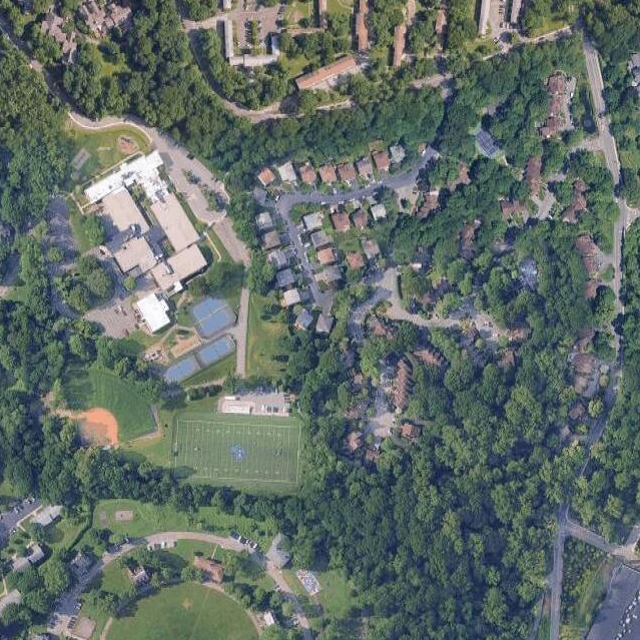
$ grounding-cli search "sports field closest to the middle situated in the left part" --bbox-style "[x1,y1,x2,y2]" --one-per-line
[173,417,303,486]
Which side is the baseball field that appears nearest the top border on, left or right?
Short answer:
left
